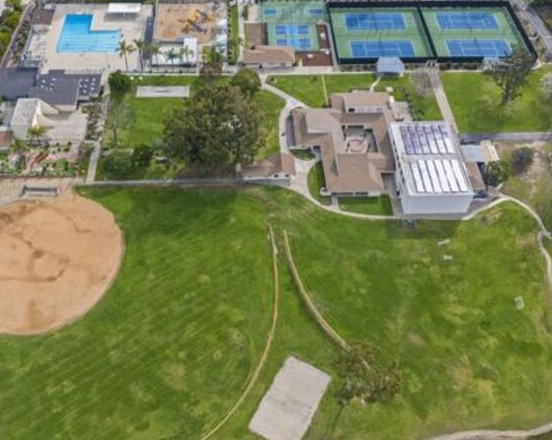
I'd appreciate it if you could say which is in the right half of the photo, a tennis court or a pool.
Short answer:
tennis court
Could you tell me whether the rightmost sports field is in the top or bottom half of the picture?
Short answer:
bottom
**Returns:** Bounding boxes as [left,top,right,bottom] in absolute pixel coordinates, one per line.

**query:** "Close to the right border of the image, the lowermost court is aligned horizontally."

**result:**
[428,34,534,56]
